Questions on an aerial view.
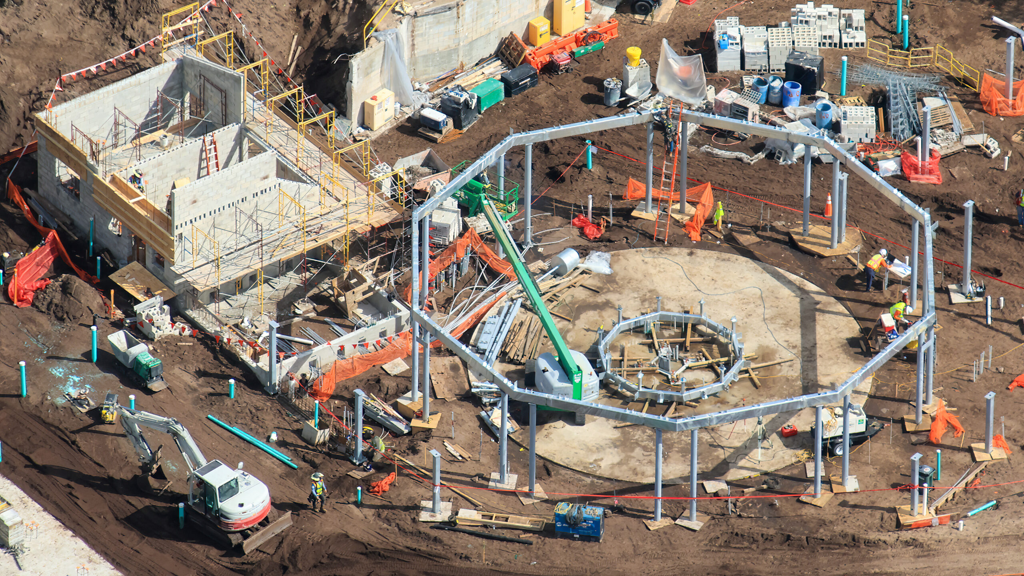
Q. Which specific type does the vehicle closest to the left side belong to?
truck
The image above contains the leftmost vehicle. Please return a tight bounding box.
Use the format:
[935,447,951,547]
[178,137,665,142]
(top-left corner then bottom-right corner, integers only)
[104,328,176,399]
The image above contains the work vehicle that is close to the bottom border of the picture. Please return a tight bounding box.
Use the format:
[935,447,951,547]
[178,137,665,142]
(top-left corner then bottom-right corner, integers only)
[118,386,296,559]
